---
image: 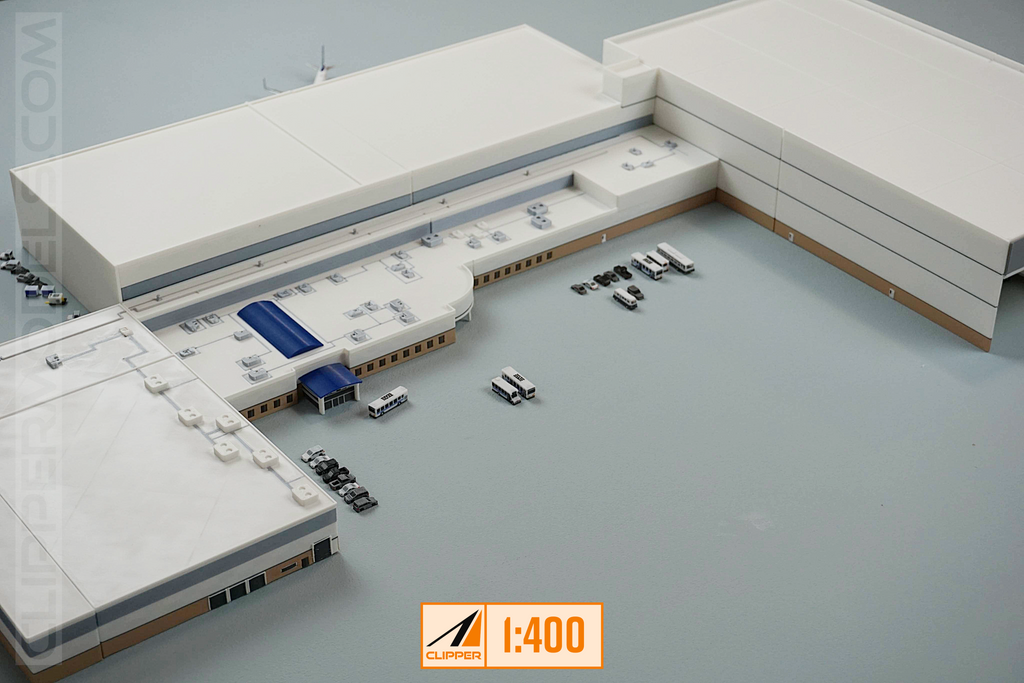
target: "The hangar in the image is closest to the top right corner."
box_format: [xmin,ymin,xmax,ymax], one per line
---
[601,0,1024,351]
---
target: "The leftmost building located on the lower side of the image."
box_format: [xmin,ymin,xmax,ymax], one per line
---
[0,305,338,683]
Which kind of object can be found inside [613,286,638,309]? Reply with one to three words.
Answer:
bus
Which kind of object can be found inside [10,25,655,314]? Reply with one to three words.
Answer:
hangar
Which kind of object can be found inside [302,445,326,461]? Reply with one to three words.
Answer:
car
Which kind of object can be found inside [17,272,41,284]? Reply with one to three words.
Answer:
vehicle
